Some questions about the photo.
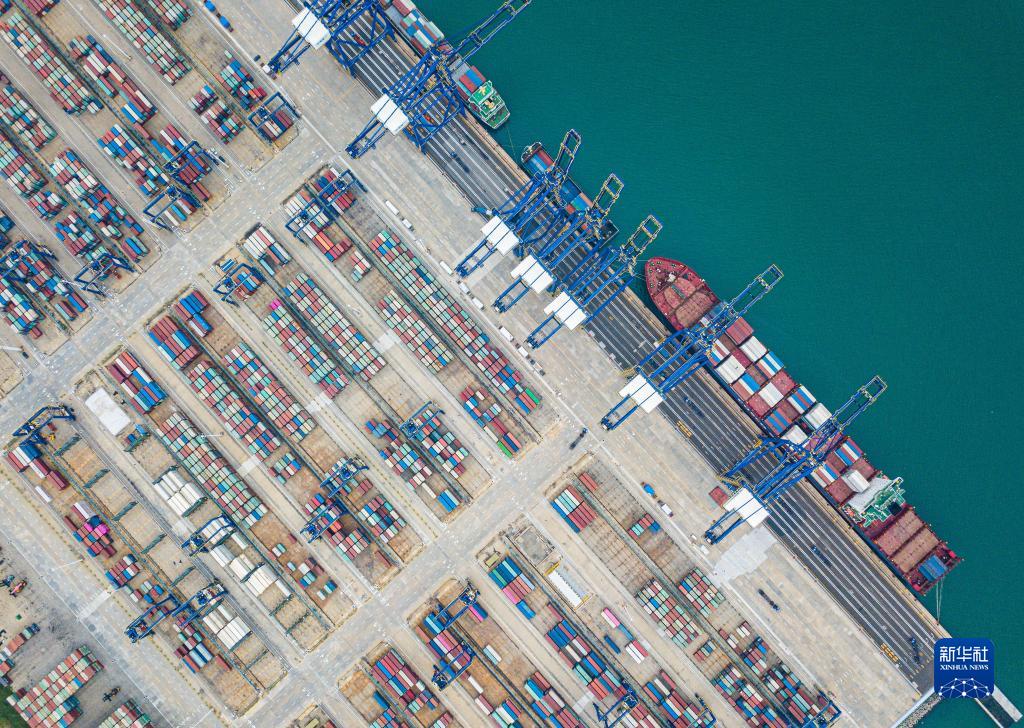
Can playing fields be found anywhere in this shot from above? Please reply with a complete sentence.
No, the photo shows no playing field.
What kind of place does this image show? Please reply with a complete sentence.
It's a port.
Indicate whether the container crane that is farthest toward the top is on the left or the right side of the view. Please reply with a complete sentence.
It is on the left.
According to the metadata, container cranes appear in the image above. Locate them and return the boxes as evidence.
[524,216,664,351]
[345,0,529,155]
[144,183,200,231]
[14,400,79,444]
[701,374,890,548]
[163,140,219,189]
[455,130,585,276]
[320,452,372,498]
[176,575,237,630]
[176,511,239,565]
[287,201,337,248]
[597,261,785,433]
[268,0,396,73]
[435,576,483,629]
[74,251,136,298]
[115,591,185,652]
[490,174,625,314]
[664,693,715,728]
[0,238,59,282]
[298,497,350,545]
[426,636,475,692]
[784,685,840,728]
[592,676,639,728]
[248,92,299,143]
[215,263,268,307]
[398,399,445,441]
[317,169,367,218]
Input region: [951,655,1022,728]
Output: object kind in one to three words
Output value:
pier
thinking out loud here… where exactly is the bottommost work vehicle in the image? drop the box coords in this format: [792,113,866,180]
[93,686,116,708]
